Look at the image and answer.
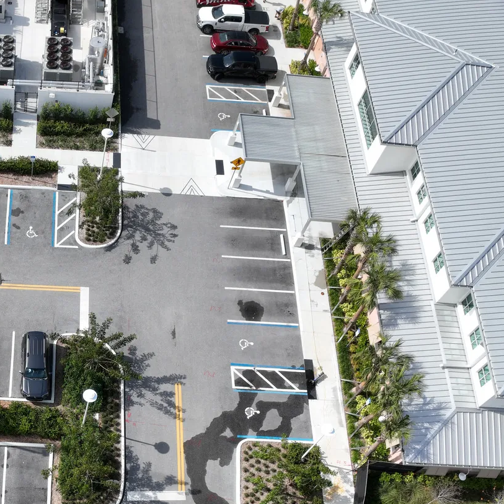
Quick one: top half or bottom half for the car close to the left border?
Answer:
bottom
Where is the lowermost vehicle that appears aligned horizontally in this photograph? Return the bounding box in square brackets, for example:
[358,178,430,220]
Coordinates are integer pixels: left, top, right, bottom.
[202,53,281,88]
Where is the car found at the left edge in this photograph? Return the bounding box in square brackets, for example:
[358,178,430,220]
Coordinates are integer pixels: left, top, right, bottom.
[16,331,54,403]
